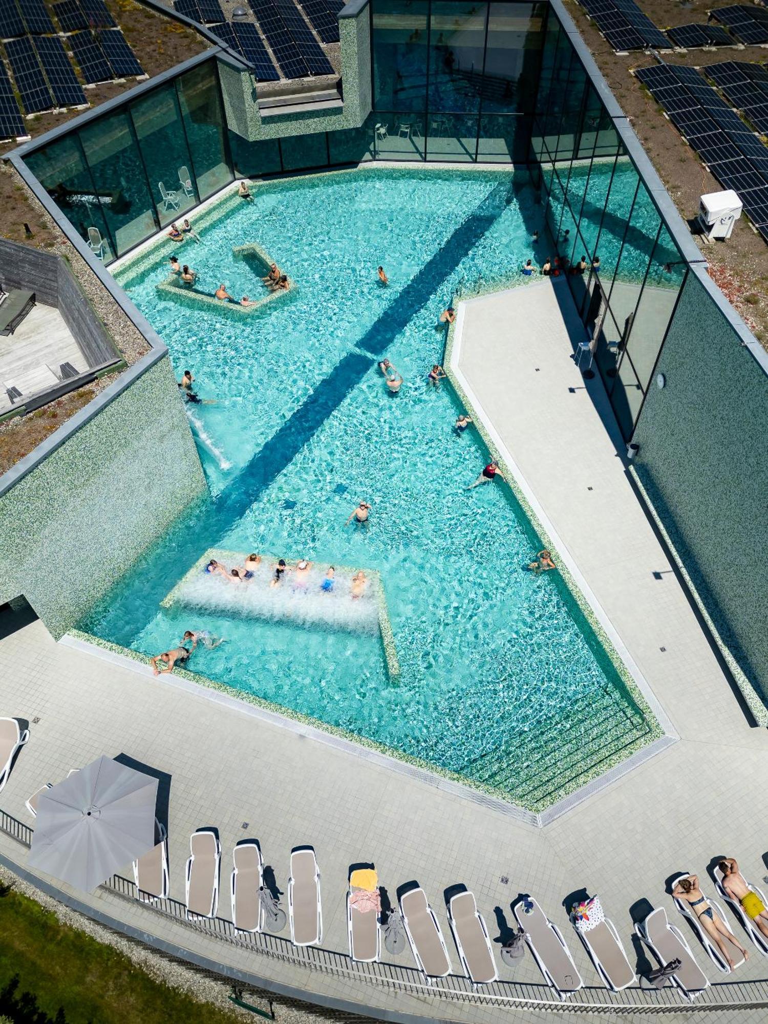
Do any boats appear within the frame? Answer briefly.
No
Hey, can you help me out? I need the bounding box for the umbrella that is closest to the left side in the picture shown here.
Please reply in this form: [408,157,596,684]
[29,755,159,893]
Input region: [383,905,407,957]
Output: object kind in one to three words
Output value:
umbrella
